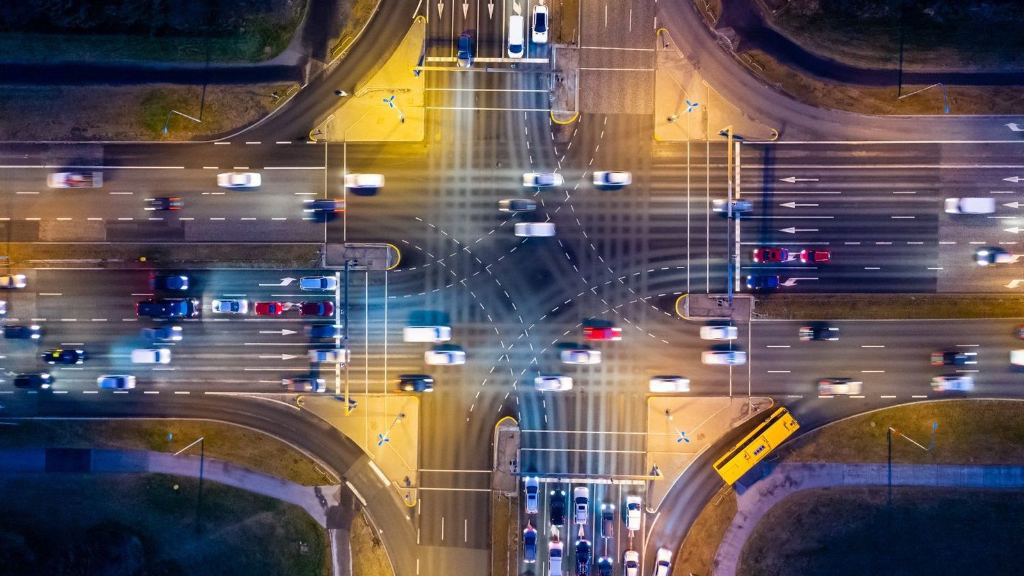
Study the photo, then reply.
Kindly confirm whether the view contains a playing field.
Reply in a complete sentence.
No, no playing field is visible in the scene.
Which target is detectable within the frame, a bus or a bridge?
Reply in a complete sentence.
It is a bus that can be seen here.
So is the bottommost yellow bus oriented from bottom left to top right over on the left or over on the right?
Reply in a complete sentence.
The bottommost yellow bus oriented from bottom left to top right appears in the right half of the scene.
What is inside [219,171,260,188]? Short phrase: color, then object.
white car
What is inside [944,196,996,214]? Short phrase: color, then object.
white vehicle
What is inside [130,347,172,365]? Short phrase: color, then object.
white vehicle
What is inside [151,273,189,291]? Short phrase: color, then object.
blue car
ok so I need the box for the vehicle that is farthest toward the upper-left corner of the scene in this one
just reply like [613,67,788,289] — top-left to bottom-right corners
[50,170,102,189]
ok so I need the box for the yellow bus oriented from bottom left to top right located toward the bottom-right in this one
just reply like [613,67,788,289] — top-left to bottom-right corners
[713,406,801,484]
